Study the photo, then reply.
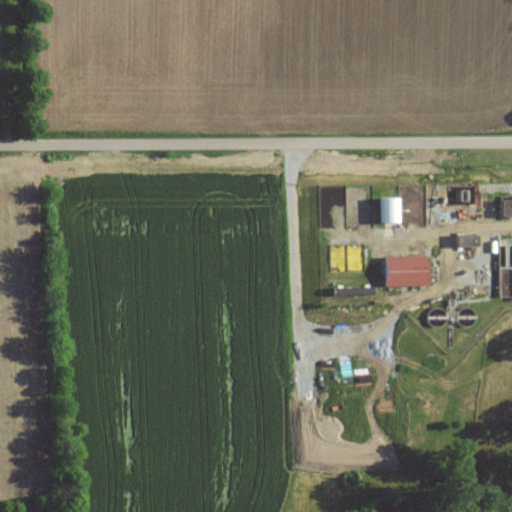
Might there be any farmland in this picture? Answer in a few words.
Yes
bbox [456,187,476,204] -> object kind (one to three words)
building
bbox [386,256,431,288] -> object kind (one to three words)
barn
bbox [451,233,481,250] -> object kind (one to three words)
building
